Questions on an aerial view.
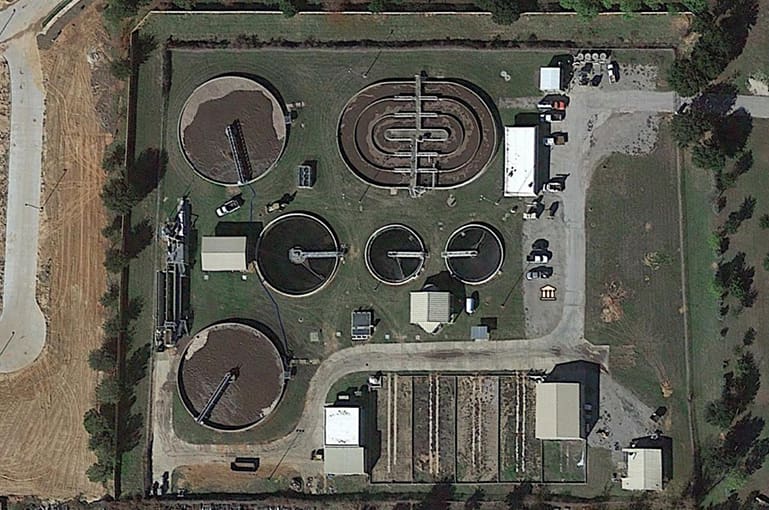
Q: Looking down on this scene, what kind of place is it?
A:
industrial area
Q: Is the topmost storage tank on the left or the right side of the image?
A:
left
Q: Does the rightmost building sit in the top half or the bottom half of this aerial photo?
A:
bottom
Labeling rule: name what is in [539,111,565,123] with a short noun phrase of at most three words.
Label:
vehicle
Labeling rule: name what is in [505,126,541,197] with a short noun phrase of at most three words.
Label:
building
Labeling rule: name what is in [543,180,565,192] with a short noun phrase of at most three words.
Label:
vehicle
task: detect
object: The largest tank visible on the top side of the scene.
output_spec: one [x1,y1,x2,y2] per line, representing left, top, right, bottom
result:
[179,77,293,189]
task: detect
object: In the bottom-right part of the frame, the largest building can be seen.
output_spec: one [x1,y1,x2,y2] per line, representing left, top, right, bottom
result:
[535,382,585,441]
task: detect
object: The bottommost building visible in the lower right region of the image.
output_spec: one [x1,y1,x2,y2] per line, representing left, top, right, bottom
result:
[622,448,665,491]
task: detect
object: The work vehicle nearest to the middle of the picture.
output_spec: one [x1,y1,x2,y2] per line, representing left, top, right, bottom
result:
[263,201,289,216]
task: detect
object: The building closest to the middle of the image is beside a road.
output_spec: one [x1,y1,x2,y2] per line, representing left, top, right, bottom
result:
[410,288,460,334]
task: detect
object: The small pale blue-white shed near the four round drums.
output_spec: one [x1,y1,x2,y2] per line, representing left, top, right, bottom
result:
[540,67,564,90]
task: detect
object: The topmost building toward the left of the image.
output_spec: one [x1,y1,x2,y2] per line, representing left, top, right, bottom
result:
[201,235,252,273]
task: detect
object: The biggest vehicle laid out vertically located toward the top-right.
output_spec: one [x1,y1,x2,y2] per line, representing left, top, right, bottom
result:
[605,61,619,88]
